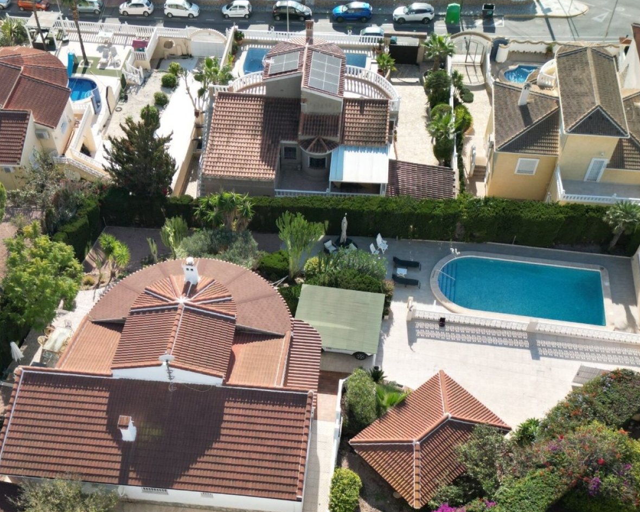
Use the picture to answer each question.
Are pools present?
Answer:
Yes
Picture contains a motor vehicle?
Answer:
Yes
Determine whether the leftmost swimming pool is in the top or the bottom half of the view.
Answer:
top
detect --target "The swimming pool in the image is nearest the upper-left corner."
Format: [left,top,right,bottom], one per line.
[68,75,102,103]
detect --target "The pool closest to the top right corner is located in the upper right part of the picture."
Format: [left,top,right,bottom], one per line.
[500,62,548,81]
